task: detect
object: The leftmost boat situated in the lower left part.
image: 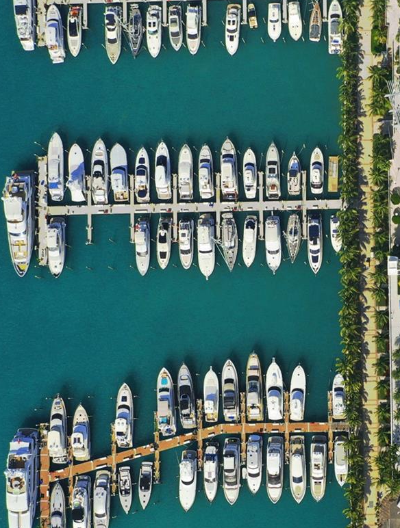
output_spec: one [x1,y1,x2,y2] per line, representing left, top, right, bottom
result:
[5,423,36,528]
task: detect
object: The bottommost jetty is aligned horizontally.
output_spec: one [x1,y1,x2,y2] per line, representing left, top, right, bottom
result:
[41,391,341,528]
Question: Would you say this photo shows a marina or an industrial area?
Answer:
marina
